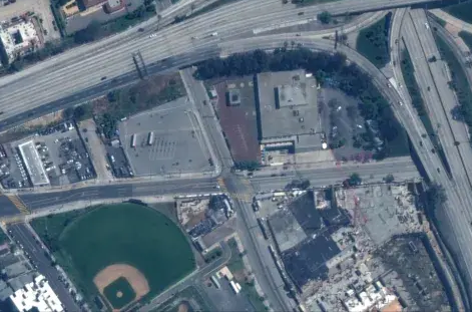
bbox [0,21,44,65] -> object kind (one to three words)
building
